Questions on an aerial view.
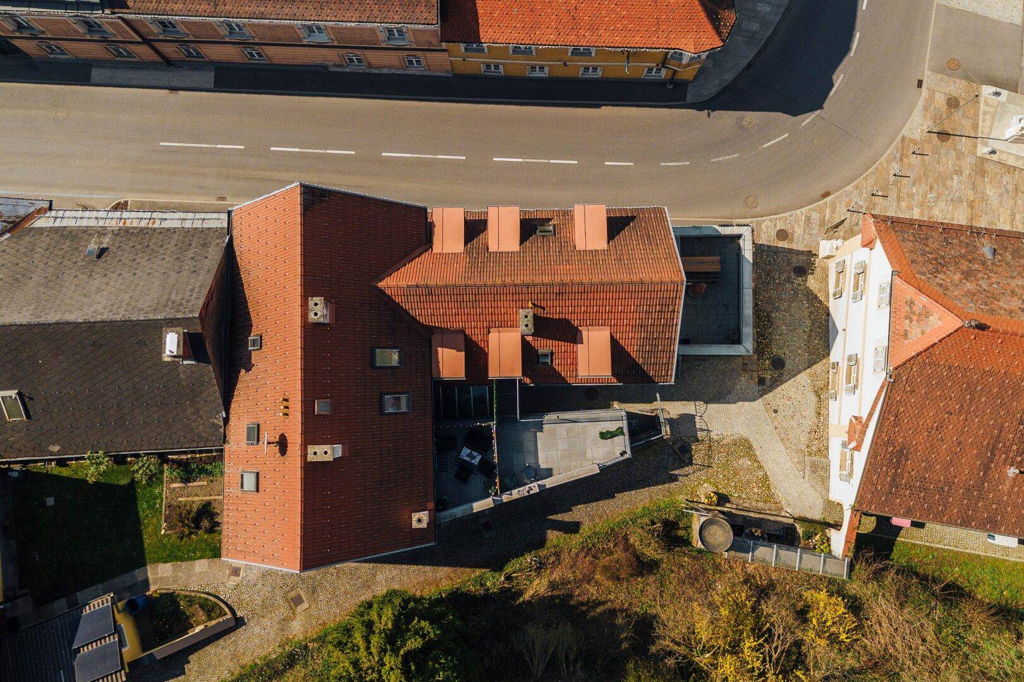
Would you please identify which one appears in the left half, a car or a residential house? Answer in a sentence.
The feature located in the left half is a residential house.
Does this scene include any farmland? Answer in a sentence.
No, no farmland is visible.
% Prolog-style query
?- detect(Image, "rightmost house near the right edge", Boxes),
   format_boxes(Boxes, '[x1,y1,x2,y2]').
[821,215,1024,542]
